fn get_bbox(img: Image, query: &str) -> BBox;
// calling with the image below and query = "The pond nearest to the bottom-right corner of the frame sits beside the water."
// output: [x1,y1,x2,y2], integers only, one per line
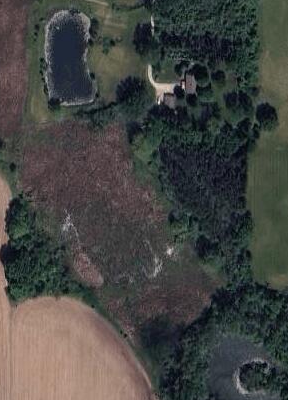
[207,333,286,400]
